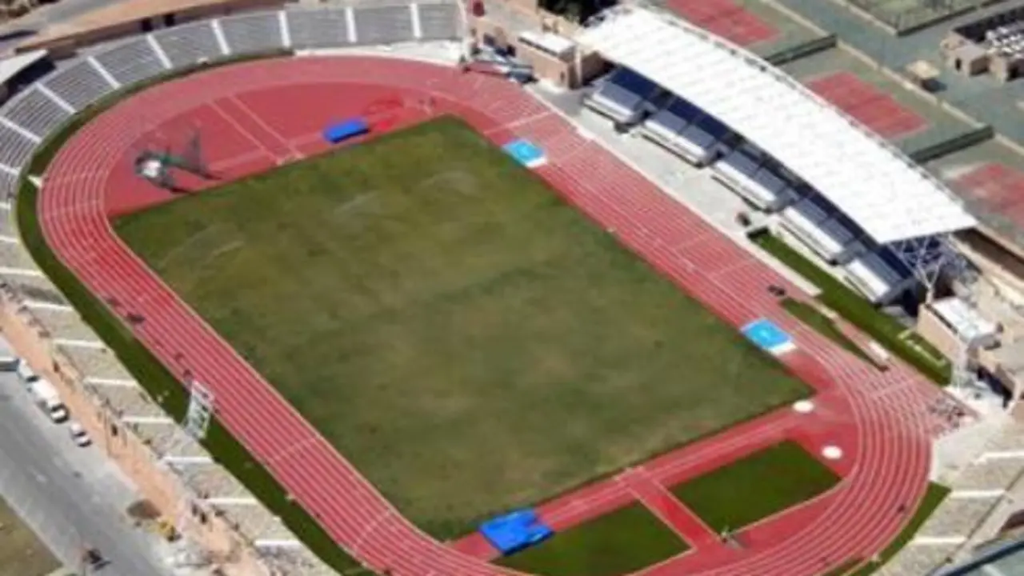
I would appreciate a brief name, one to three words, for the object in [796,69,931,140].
tennis court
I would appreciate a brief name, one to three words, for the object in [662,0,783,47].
tennis court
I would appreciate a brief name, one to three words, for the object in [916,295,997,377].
building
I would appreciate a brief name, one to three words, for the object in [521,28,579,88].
building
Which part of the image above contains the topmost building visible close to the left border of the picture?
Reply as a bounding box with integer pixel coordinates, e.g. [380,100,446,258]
[0,45,48,99]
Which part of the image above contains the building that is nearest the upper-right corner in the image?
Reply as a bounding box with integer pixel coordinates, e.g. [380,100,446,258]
[941,28,1024,83]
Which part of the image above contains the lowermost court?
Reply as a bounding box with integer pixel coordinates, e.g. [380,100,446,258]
[950,162,1024,228]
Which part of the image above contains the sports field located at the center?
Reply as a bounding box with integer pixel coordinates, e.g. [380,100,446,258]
[114,116,813,537]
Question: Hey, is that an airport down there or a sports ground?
sports ground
